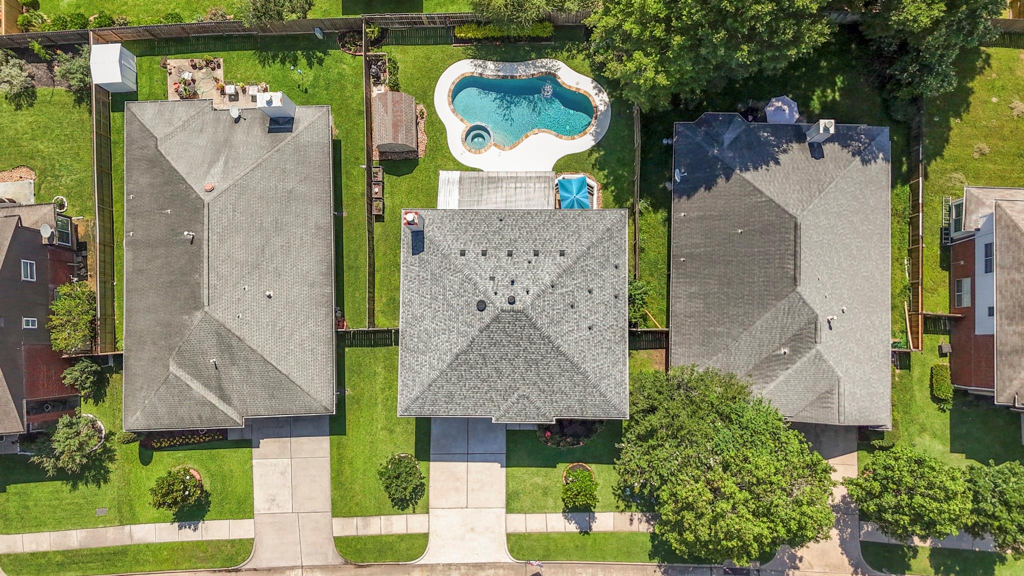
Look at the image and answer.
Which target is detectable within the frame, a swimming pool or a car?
swimming pool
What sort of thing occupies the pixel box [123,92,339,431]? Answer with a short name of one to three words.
house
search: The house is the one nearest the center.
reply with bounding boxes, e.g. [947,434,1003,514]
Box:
[397,208,630,423]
